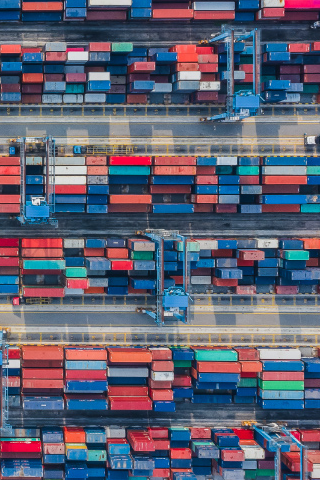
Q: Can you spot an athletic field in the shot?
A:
No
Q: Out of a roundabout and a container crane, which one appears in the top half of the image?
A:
container crane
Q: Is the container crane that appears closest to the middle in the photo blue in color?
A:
Yes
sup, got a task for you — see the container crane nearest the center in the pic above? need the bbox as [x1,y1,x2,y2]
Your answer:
[131,228,191,325]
